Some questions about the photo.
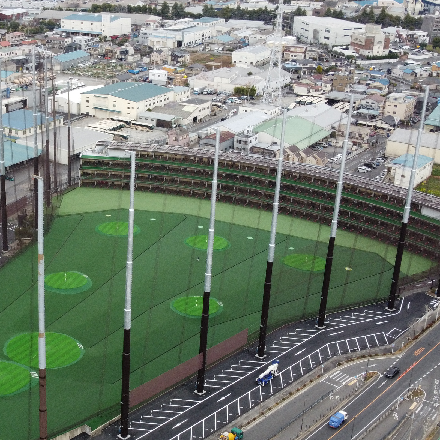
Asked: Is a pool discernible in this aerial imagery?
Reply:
No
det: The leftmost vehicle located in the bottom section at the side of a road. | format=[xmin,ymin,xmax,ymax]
[222,423,245,440]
